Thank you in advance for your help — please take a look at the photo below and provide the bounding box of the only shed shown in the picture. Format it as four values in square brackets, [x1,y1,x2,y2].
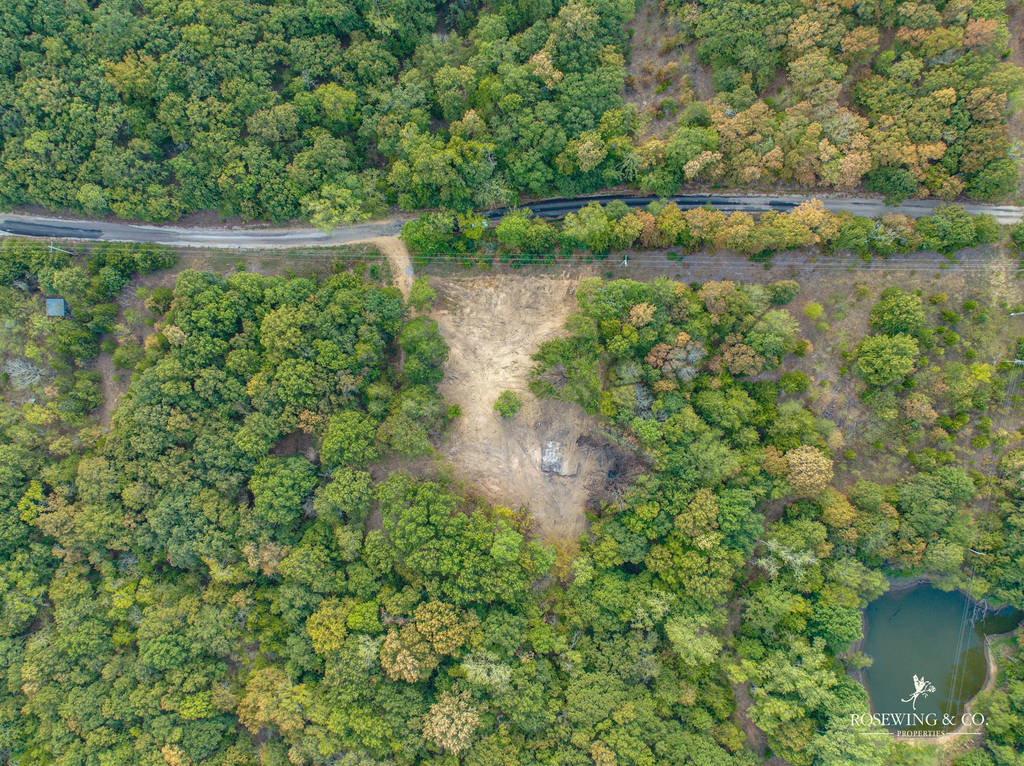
[47,298,72,317]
